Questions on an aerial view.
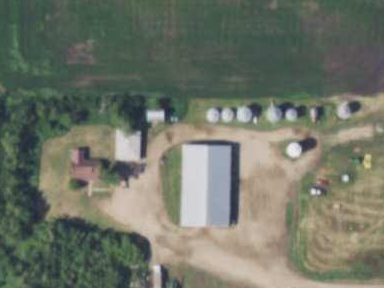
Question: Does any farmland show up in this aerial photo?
Yes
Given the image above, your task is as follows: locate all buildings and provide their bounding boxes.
[116,130,141,160]
[71,148,100,181]
[180,144,231,228]
[146,109,163,121]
